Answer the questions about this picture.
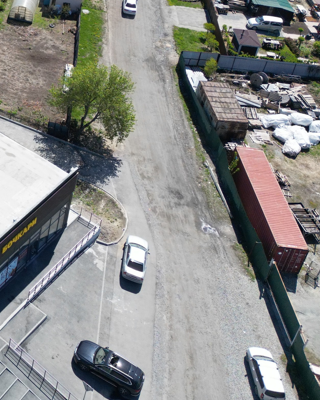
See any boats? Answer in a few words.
No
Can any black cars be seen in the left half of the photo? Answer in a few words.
Yes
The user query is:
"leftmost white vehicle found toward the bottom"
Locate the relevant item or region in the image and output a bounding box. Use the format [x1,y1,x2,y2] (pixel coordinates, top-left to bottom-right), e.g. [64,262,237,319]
[119,238,148,287]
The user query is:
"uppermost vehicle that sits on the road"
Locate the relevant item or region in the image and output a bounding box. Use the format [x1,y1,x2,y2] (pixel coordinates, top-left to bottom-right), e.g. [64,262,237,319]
[121,0,138,17]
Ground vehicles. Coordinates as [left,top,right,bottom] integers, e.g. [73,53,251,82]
[119,238,148,287]
[244,16,285,34]
[121,0,138,17]
[244,343,287,400]
[70,344,145,397]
